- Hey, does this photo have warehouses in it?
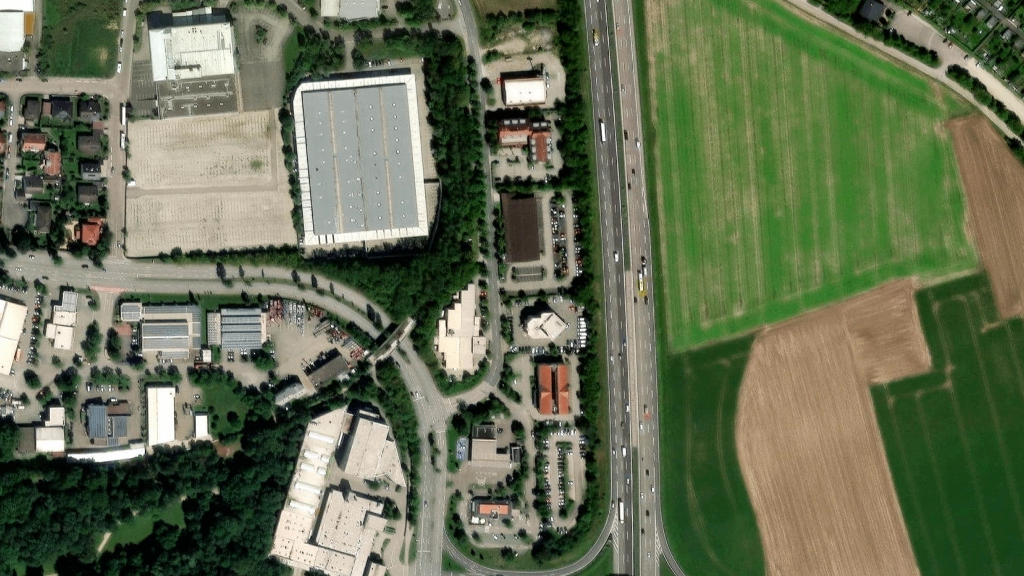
Yes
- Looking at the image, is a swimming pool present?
No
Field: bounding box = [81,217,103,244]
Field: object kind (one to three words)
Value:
house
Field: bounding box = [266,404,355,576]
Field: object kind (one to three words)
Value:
building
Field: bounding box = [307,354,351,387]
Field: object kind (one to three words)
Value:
shed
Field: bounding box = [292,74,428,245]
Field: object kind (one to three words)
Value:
warehouse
